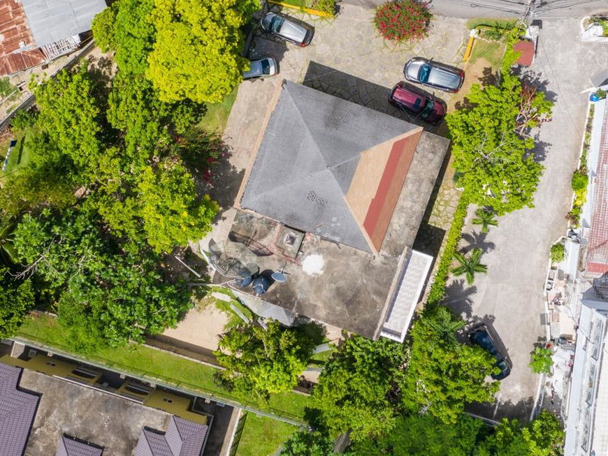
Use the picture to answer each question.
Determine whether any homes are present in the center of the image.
Yes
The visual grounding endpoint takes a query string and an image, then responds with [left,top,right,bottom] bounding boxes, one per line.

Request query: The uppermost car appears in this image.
[260,12,315,48]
